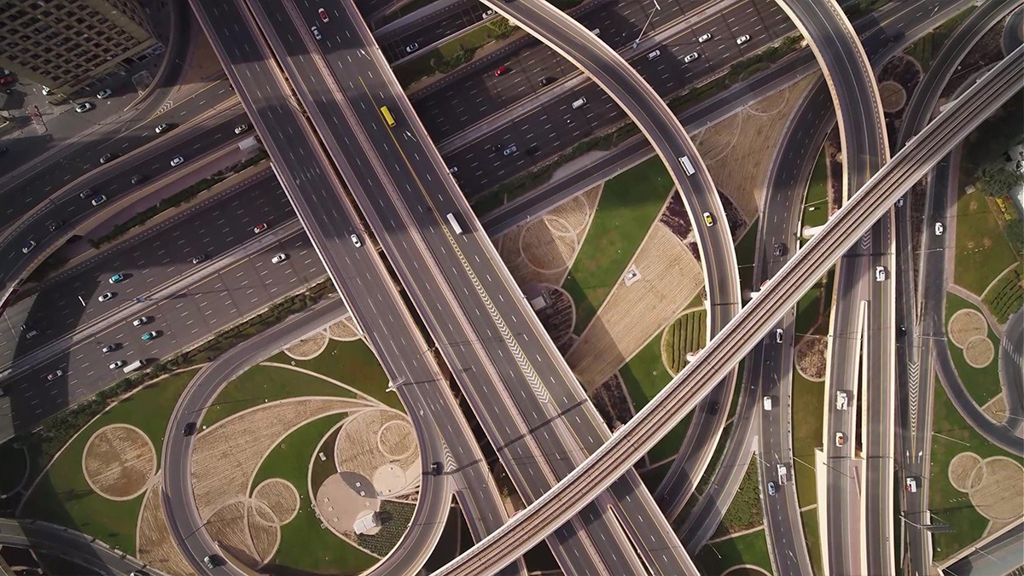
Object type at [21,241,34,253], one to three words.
vehicle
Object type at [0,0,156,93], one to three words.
building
